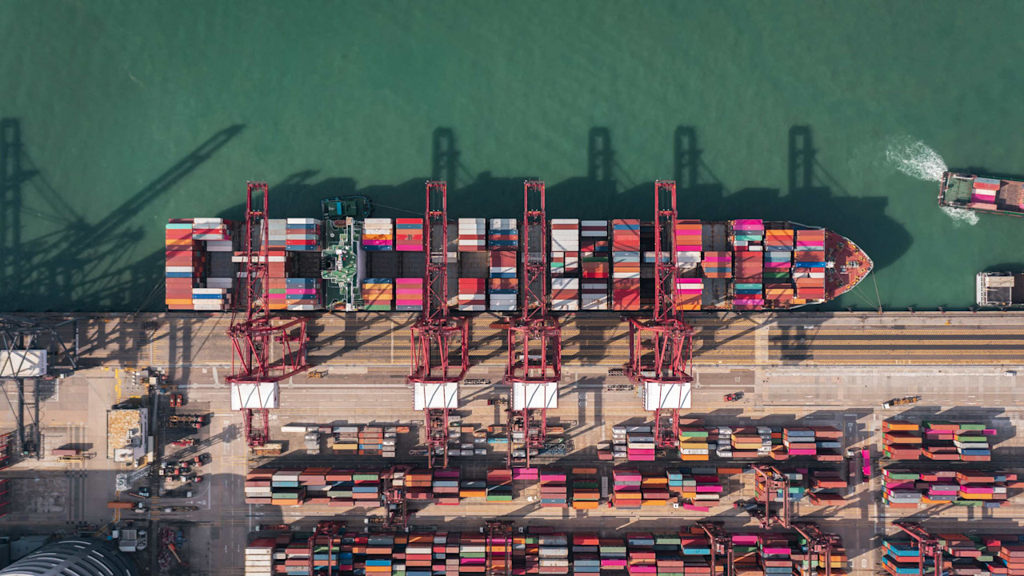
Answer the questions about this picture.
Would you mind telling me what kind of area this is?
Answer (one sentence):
The picture captures a port.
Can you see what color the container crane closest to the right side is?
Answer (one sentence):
The container crane closest to the right side looks red in the image.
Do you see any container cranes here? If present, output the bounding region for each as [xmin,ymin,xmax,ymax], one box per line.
[894,520,942,576]
[790,520,832,576]
[307,520,343,576]
[614,181,693,449]
[382,461,414,534]
[486,520,513,576]
[223,181,321,449]
[0,297,109,449]
[499,181,564,449]
[749,462,790,534]
[506,405,532,469]
[404,181,478,449]
[698,520,735,576]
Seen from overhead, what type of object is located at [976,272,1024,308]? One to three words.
vessel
